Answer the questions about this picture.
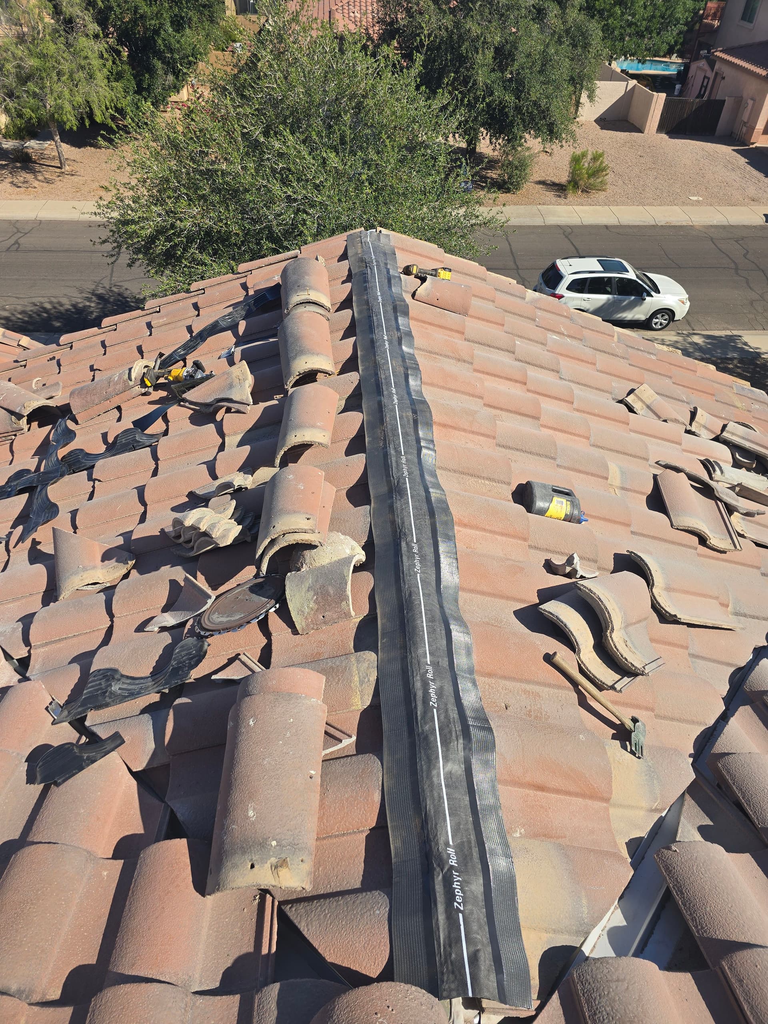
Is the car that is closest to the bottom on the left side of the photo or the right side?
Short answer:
right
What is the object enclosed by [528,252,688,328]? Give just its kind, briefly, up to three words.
car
